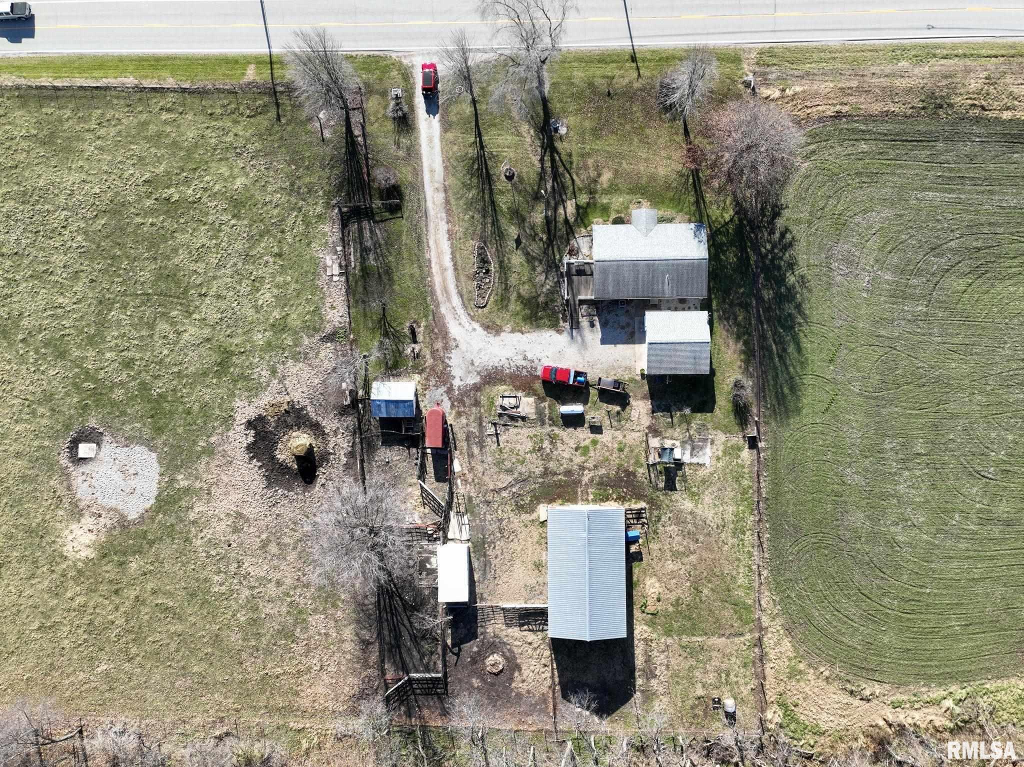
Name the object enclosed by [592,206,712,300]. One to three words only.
house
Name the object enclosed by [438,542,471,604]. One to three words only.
shed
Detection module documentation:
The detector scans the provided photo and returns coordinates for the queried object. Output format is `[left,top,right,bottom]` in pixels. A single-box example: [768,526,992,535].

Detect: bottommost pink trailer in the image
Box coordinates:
[426,400,447,447]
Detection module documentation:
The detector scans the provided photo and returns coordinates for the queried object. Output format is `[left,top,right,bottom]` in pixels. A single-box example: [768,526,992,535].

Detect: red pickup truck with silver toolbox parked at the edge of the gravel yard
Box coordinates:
[539,365,589,387]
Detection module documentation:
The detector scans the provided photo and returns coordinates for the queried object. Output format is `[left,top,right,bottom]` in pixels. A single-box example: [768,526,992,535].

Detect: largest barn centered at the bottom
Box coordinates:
[546,506,627,642]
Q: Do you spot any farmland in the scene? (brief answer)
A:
Yes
